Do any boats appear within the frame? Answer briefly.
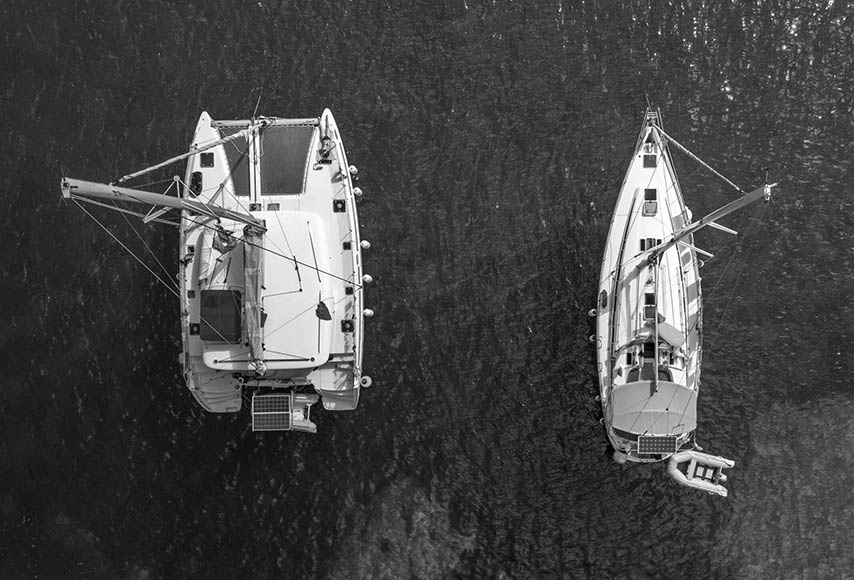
Yes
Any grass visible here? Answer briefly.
No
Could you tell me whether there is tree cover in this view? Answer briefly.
No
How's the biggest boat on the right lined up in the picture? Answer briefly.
vertically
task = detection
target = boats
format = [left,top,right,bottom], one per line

[666,451,736,501]
[249,392,321,433]
[44,95,365,431]
[596,95,782,462]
